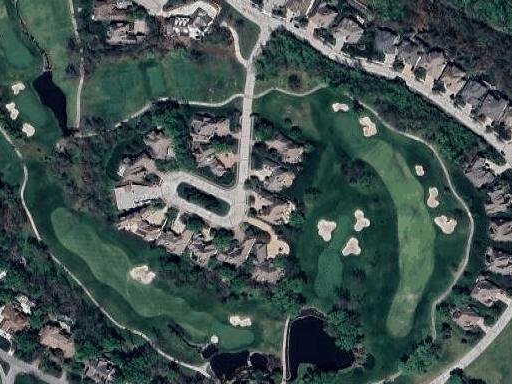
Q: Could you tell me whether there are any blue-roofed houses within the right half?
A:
No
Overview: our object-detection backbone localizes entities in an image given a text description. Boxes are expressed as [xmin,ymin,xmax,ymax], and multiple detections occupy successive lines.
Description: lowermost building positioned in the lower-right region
[450,306,485,330]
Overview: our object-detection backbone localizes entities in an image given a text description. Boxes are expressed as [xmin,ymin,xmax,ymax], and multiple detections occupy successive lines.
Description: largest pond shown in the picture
[287,317,354,379]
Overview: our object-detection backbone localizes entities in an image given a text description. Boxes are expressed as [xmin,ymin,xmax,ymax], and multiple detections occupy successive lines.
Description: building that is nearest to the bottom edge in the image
[81,361,118,384]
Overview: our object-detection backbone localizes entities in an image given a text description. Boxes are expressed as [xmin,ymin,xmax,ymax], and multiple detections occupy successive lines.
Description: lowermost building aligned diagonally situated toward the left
[33,320,77,359]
